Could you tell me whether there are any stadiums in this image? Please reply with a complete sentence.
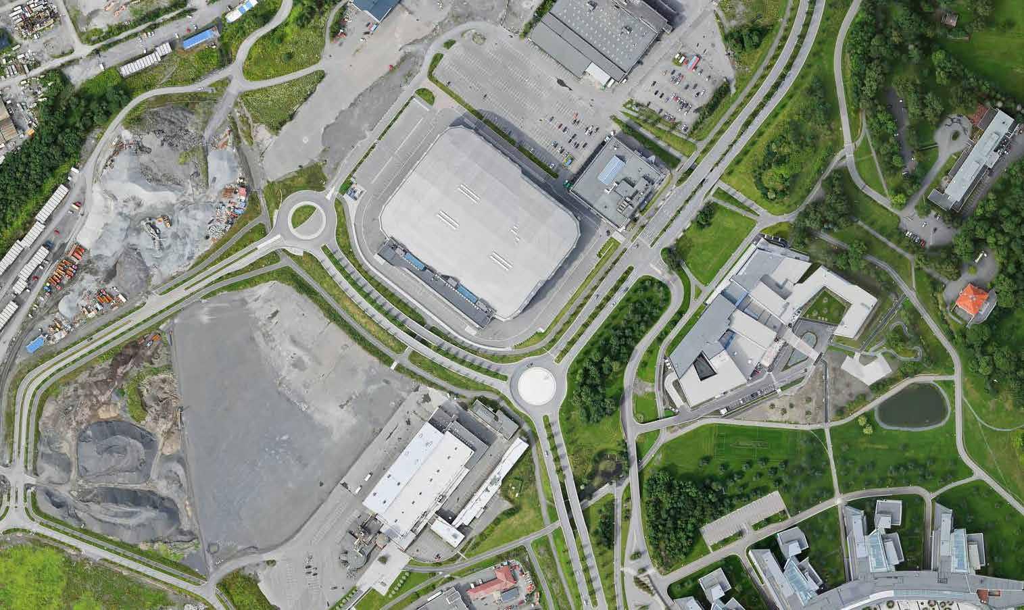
Yes, a stadium can be made out from above.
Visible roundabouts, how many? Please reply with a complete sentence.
In total, 2 roundabouts can be seen.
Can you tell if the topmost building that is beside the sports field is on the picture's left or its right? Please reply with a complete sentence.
The topmost building that is beside the sports field appears in the right half of the scene.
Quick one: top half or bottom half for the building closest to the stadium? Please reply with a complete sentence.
The top half of the photo is where the building closest to the stadium is.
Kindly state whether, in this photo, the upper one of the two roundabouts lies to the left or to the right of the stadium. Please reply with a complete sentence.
The upper one of the two roundabouts can be seen on the left of the stadium.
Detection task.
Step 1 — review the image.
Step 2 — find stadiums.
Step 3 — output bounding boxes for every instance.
[373,123,582,336]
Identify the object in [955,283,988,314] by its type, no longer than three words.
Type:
house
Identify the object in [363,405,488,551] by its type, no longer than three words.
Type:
building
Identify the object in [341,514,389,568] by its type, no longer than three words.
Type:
building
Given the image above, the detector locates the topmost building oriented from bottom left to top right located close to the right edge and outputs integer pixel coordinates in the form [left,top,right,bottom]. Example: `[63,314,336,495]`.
[926,107,1015,212]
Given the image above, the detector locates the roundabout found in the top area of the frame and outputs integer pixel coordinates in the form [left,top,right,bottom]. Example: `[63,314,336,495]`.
[278,191,336,249]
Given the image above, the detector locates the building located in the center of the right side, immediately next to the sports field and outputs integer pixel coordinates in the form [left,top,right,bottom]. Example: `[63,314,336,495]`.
[668,238,878,407]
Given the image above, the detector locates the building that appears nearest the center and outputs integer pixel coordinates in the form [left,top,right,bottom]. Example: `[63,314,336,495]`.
[468,400,519,440]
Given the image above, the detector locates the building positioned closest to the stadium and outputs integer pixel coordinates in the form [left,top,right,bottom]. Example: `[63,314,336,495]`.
[569,134,667,230]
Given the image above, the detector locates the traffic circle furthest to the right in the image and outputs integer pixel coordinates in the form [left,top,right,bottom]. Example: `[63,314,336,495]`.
[507,356,567,417]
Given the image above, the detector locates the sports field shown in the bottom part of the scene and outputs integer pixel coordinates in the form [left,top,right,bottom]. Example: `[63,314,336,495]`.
[713,427,780,466]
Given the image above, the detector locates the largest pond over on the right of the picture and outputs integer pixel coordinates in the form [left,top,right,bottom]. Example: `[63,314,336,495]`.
[874,380,951,431]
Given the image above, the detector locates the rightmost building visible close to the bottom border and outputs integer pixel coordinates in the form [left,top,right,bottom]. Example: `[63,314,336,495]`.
[672,498,1024,610]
